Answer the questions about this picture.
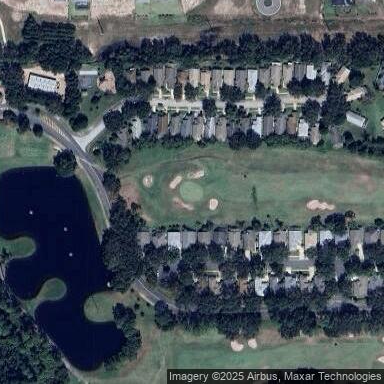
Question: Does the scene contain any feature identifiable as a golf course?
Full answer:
Yes, looking at the shot, I can spot a golf course.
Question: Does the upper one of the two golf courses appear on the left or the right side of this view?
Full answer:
The upper one of the two golf courses appears in the right half of the scene.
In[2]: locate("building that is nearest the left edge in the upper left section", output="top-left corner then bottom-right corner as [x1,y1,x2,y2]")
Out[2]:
[27,73,58,93]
